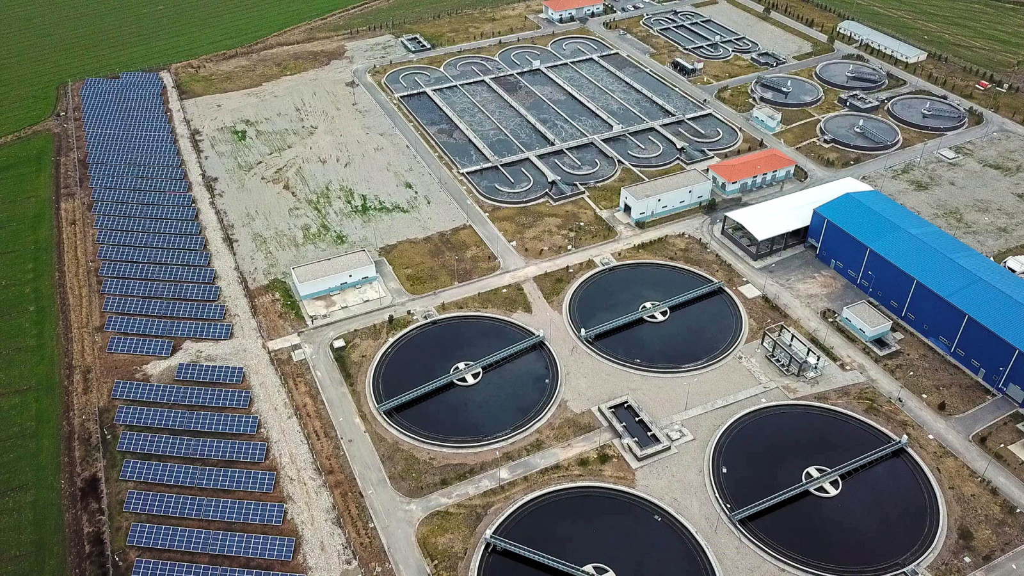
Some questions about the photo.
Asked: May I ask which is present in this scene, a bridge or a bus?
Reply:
bridge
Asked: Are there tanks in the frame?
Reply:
Yes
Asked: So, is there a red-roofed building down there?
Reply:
Yes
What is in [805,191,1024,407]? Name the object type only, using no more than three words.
building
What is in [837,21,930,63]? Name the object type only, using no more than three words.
building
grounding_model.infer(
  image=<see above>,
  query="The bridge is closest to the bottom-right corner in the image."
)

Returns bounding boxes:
[728,437,910,526]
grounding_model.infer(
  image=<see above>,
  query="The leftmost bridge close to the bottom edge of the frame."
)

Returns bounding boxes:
[477,539,602,576]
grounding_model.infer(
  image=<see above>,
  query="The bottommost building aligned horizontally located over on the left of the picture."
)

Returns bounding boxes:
[289,247,377,299]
